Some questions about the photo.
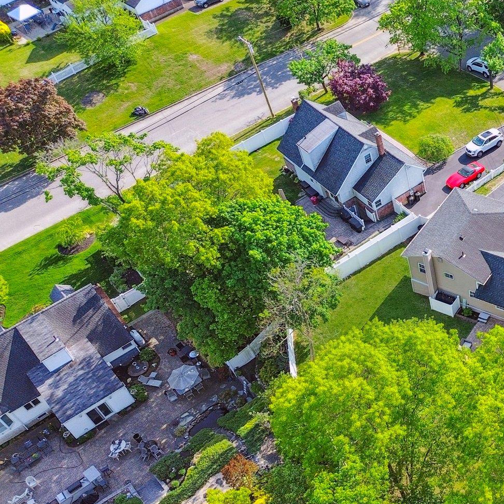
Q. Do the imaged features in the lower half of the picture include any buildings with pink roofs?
No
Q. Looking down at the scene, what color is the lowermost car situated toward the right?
red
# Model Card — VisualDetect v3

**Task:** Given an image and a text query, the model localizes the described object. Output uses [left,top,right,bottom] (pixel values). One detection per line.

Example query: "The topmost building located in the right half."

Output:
[275,93,429,220]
